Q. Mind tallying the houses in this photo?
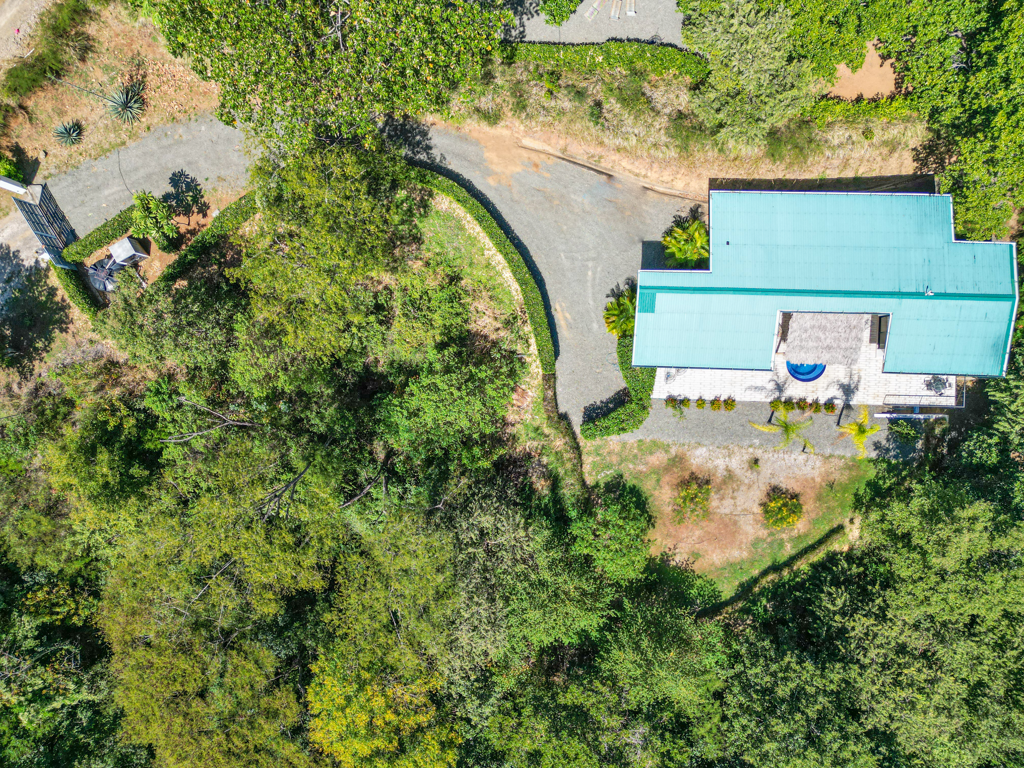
1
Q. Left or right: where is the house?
right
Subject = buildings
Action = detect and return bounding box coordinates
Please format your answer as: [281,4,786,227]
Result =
[629,188,1022,380]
